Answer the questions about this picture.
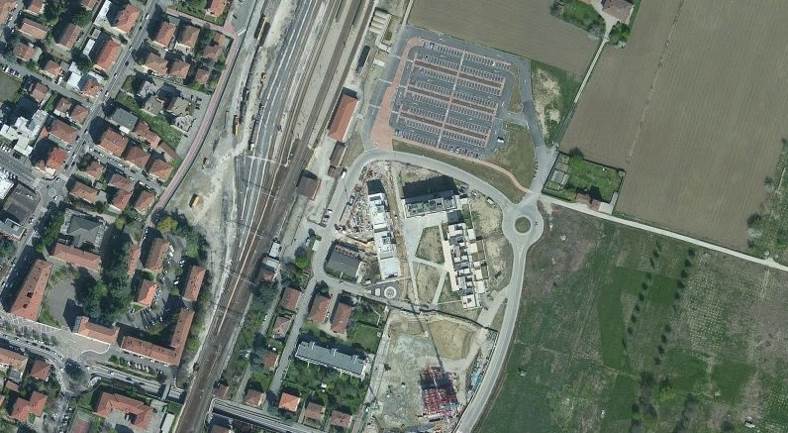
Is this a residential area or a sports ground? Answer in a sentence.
The picture captures a residential area.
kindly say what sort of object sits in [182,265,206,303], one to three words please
house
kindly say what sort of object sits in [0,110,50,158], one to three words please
building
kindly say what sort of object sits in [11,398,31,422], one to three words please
house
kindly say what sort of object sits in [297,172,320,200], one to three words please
shed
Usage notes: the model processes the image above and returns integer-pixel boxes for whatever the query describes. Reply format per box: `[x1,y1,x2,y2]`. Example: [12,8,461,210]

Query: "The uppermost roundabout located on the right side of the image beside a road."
[503,205,542,244]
